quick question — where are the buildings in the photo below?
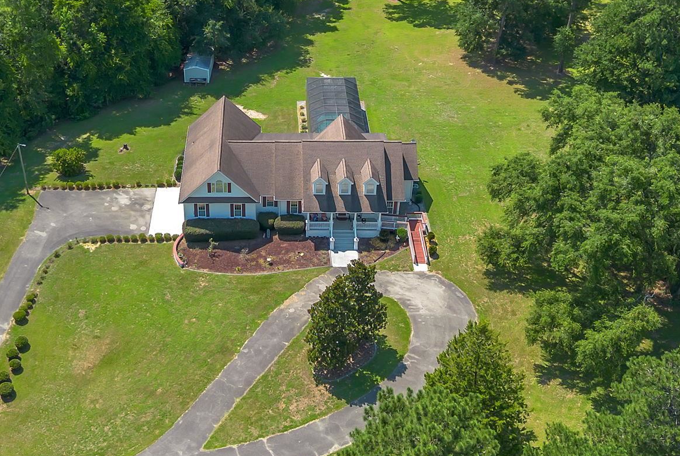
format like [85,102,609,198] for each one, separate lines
[178,96,419,250]
[182,49,214,83]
